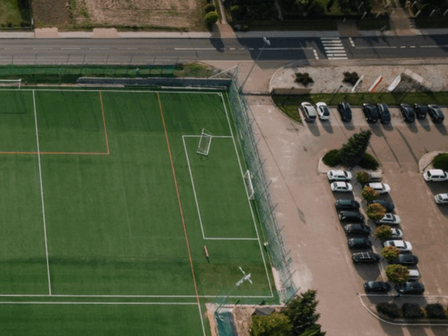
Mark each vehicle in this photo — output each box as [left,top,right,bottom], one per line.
[364,181,391,194]
[333,199,360,211]
[434,193,448,205]
[399,104,416,124]
[315,103,331,121]
[364,171,387,182]
[350,251,380,264]
[393,282,424,294]
[422,169,448,181]
[376,104,392,125]
[329,181,353,193]
[325,169,352,181]
[392,228,406,239]
[363,280,390,293]
[394,255,420,265]
[377,213,402,226]
[338,210,364,223]
[344,224,370,235]
[337,104,353,122]
[412,103,428,122]
[427,105,445,125]
[361,104,379,124]
[380,200,397,212]
[301,104,316,122]
[346,237,372,249]
[383,240,412,253]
